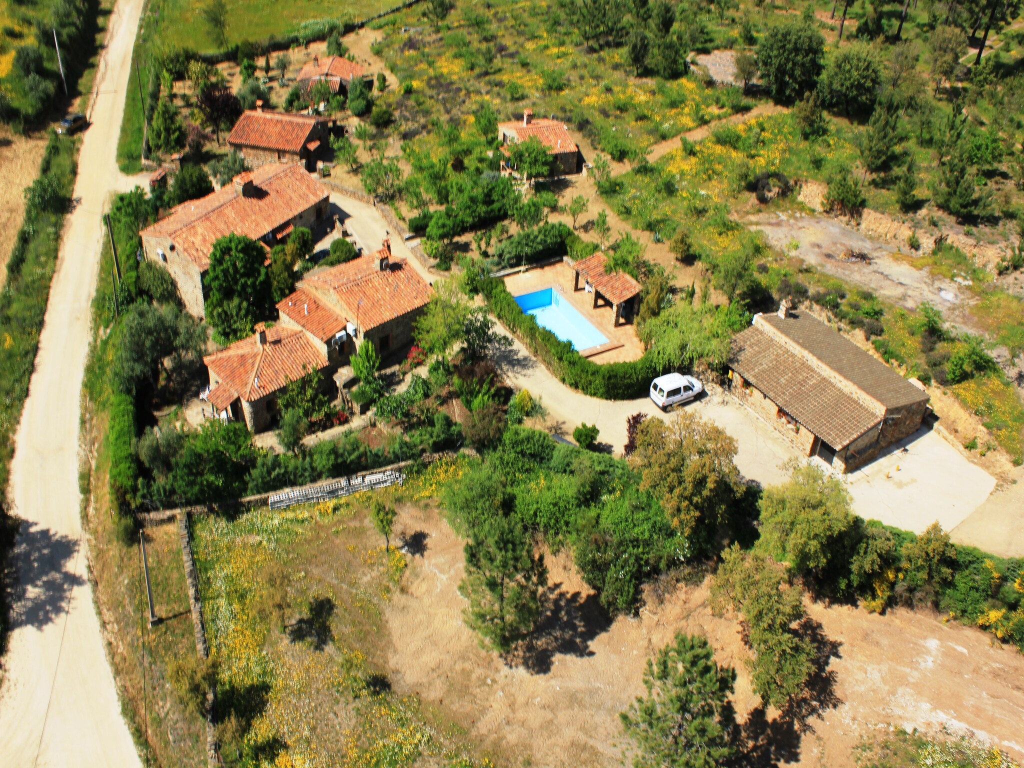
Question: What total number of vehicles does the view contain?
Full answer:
In total, 2 vehicles can be seen.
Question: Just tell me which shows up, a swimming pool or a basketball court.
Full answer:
The image shows a swimming pool.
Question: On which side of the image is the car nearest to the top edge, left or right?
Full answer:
It is on the left.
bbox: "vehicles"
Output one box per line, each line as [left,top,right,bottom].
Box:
[647,376,706,413]
[52,109,90,135]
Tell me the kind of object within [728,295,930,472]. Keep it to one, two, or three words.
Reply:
barn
